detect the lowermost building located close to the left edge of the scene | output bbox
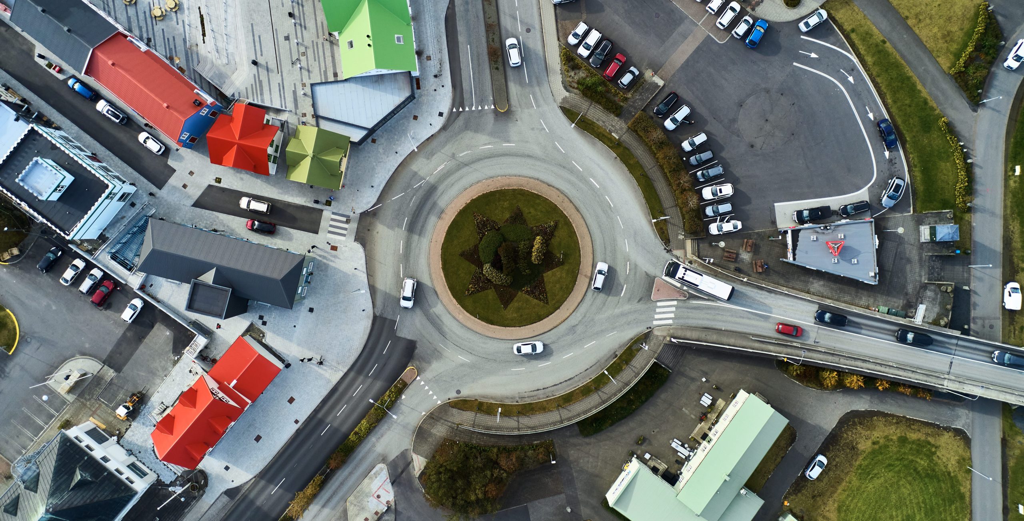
[0,411,165,521]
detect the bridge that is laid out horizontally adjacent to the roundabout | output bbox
[653,253,1024,406]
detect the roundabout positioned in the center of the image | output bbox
[428,175,594,340]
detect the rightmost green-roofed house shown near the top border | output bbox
[322,0,419,79]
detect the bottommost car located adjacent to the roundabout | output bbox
[514,341,543,355]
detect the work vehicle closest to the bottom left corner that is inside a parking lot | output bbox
[115,389,149,419]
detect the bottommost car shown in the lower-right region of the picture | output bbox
[805,454,826,480]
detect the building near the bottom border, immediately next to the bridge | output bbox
[606,389,789,521]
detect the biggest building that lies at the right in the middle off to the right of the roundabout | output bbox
[776,217,880,286]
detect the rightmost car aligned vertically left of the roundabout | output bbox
[401,278,415,307]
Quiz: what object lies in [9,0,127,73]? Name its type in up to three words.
house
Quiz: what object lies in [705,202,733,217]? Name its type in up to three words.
car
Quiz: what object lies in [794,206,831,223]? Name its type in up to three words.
vehicle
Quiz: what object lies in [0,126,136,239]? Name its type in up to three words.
building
